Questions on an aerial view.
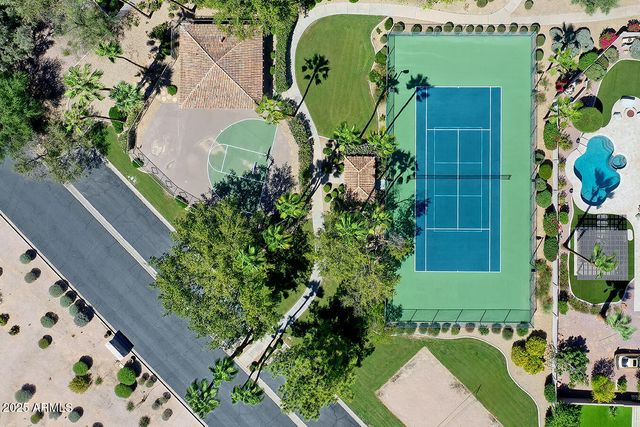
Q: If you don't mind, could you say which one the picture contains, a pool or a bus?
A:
pool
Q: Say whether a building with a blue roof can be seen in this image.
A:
No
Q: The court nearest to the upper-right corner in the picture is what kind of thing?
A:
tennis court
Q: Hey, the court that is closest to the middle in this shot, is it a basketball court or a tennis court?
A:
basketball court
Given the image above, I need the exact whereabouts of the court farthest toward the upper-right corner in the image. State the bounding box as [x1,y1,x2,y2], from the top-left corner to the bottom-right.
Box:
[387,35,531,322]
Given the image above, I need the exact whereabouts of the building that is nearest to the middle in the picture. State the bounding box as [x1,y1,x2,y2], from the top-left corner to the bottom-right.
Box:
[343,154,376,199]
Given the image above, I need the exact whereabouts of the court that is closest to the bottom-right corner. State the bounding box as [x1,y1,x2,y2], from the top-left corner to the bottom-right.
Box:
[375,346,503,427]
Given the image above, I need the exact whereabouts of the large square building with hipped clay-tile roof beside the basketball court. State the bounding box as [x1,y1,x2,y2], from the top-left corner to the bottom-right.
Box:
[179,23,264,109]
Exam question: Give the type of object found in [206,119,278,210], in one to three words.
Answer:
basketball court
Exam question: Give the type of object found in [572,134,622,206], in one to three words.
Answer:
swimming pool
